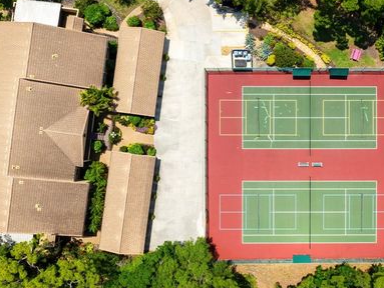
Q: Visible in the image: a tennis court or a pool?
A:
tennis court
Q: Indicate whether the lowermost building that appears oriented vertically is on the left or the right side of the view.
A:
left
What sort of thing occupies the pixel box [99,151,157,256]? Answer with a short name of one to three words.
building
